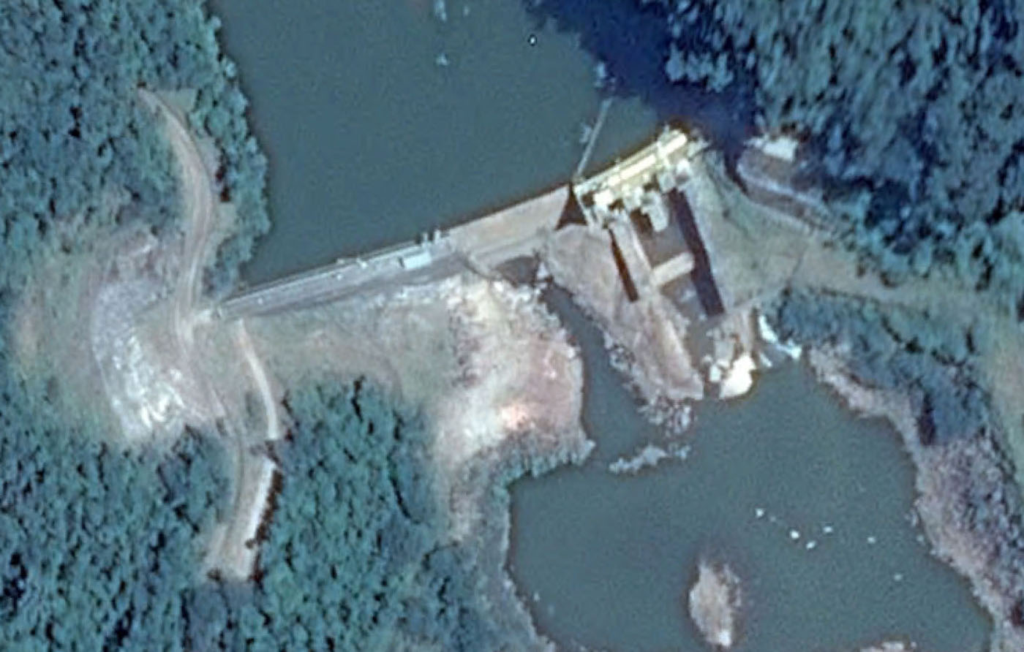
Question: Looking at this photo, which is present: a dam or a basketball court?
dam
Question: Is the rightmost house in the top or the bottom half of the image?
top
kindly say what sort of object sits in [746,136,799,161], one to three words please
house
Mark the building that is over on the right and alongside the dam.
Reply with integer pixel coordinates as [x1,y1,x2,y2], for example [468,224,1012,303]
[573,123,693,232]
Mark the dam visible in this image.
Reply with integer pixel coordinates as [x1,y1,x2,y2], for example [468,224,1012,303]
[215,183,587,320]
